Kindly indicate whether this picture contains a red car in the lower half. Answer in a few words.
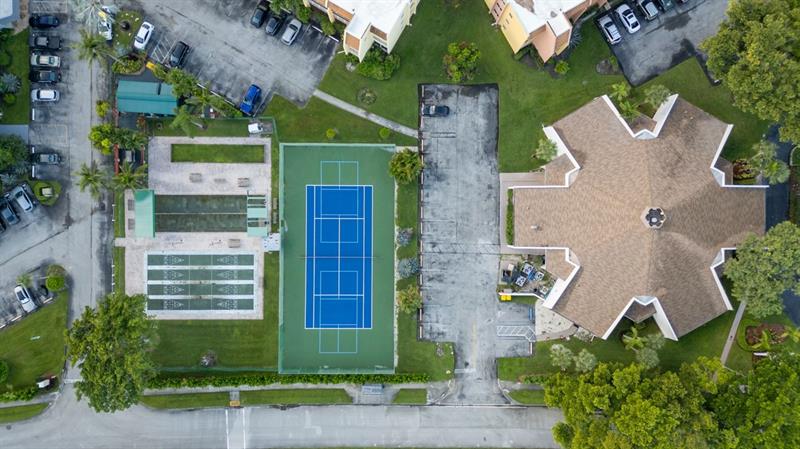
No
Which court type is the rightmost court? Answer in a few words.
tennis court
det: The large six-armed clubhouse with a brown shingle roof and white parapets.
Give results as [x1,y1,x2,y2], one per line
[507,89,770,347]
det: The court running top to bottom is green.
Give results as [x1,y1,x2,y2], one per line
[284,146,395,370]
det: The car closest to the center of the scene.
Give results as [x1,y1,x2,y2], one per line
[422,104,451,117]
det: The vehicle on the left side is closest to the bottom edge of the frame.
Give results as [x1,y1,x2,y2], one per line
[16,287,38,312]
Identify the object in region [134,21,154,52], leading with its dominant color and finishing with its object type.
white car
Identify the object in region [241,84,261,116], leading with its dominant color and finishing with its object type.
blue vehicle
